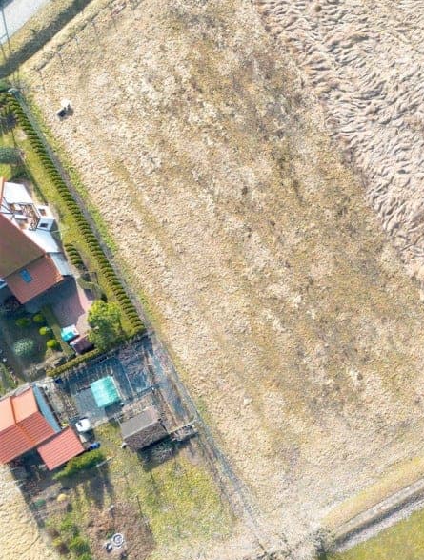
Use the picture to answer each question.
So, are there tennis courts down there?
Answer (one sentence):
No, the frame has no tennis court in it.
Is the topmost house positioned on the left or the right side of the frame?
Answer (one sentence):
The topmost house appears in the left half of the scene.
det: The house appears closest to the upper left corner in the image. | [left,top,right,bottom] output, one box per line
[0,169,87,303]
